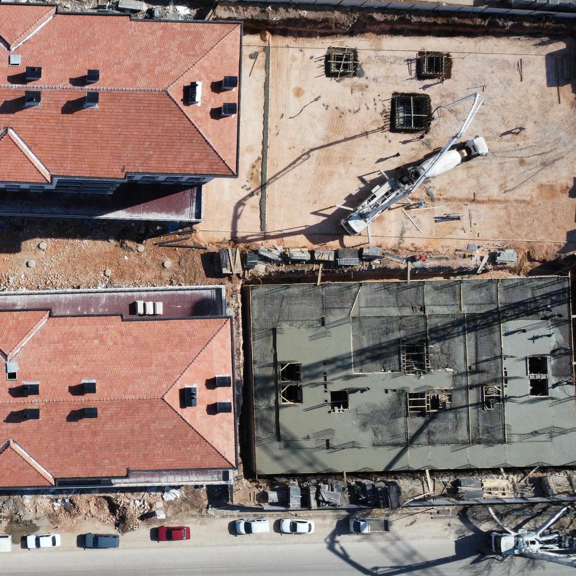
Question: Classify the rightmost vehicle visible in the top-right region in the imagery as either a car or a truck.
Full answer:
Looking closely, the rightmost vehicle visible in the top-right region is a truck.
